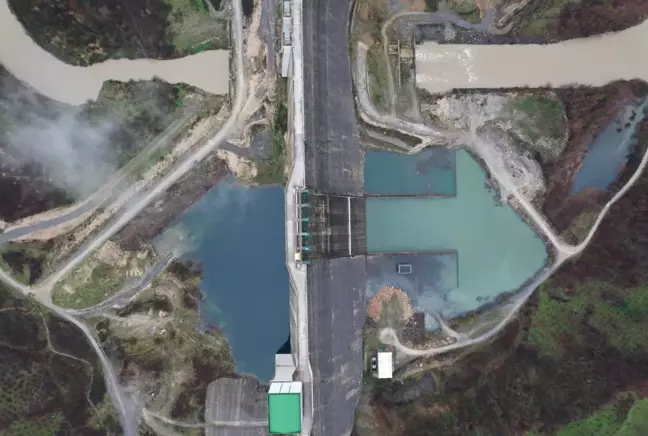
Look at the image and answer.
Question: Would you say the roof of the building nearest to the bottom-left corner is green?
Yes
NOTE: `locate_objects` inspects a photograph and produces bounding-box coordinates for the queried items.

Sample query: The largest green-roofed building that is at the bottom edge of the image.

[269,382,301,433]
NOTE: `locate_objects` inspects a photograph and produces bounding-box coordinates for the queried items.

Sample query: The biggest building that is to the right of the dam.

[378,351,392,378]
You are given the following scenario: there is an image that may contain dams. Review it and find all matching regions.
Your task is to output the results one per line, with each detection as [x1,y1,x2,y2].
[285,0,368,436]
